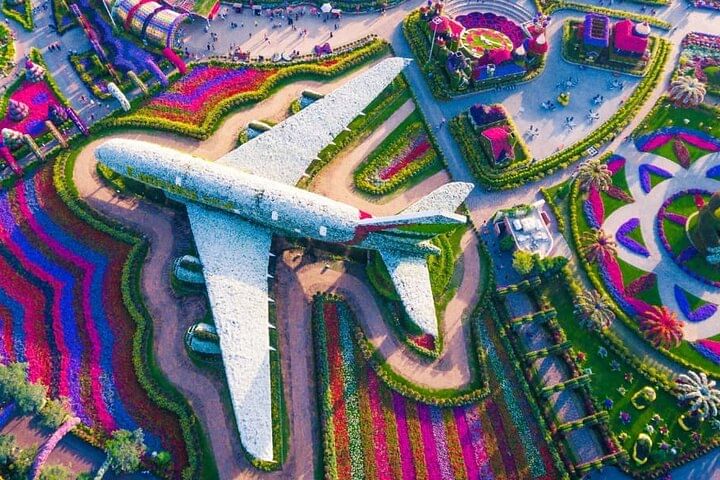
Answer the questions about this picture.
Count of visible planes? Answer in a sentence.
Only 1 plane is visible.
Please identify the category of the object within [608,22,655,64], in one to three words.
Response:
house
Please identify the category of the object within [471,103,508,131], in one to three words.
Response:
shed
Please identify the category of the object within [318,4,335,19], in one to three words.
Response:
umbrella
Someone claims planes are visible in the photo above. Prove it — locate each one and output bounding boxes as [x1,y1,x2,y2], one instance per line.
[91,57,476,462]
